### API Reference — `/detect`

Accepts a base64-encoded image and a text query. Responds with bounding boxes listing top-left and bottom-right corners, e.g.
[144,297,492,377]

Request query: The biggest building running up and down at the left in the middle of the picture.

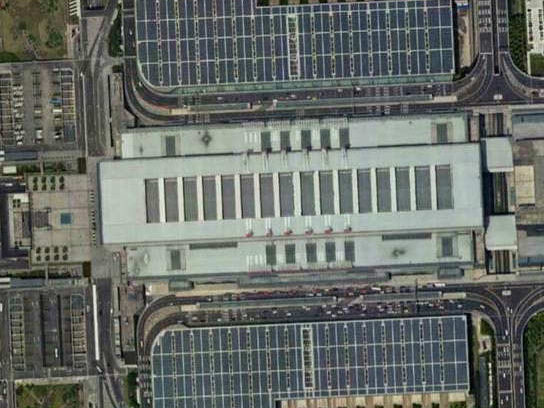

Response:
[10,191,29,248]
